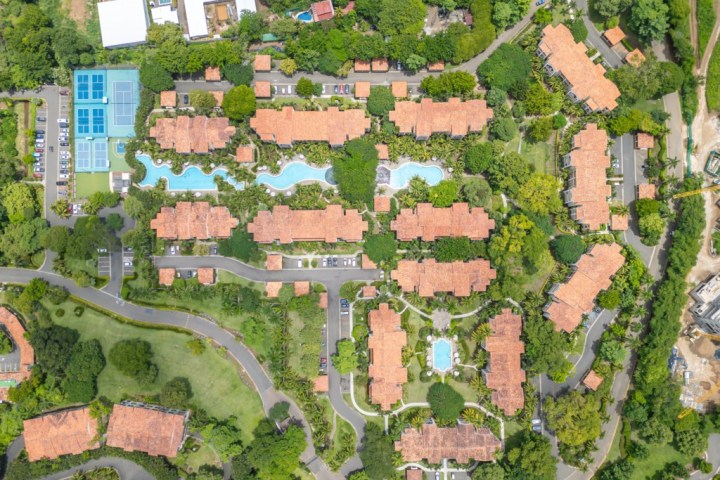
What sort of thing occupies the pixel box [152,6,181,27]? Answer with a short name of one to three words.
house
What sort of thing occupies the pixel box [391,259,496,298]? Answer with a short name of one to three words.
building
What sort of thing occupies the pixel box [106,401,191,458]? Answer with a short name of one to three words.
building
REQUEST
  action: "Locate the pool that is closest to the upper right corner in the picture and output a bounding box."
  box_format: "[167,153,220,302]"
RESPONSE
[377,162,444,190]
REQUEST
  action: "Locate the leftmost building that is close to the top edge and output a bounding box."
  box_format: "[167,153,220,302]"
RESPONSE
[97,0,150,50]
